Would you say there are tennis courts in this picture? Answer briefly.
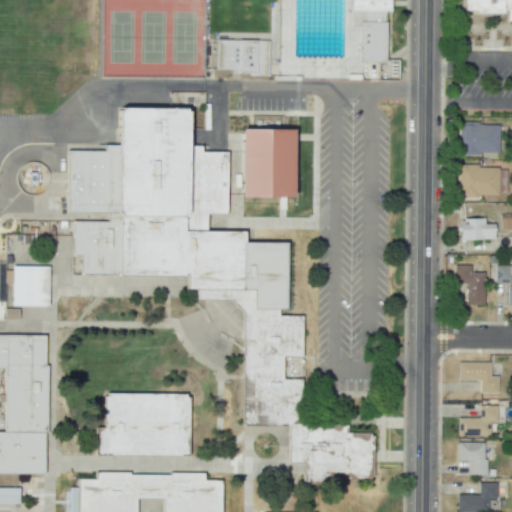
Yes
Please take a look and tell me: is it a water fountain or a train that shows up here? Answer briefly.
water fountain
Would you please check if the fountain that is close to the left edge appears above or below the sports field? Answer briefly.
below it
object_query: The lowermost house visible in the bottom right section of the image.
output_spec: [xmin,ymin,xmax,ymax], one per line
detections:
[460,482,500,512]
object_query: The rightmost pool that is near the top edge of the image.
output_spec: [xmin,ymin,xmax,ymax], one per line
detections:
[296,0,346,60]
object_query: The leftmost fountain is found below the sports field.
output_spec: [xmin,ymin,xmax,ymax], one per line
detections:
[18,162,51,194]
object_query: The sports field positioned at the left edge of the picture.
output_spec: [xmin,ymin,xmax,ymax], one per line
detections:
[0,0,88,116]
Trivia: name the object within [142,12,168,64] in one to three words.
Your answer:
tennis court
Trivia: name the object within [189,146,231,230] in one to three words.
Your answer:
building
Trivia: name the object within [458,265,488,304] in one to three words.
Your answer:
house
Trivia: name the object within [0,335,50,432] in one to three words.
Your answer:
building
